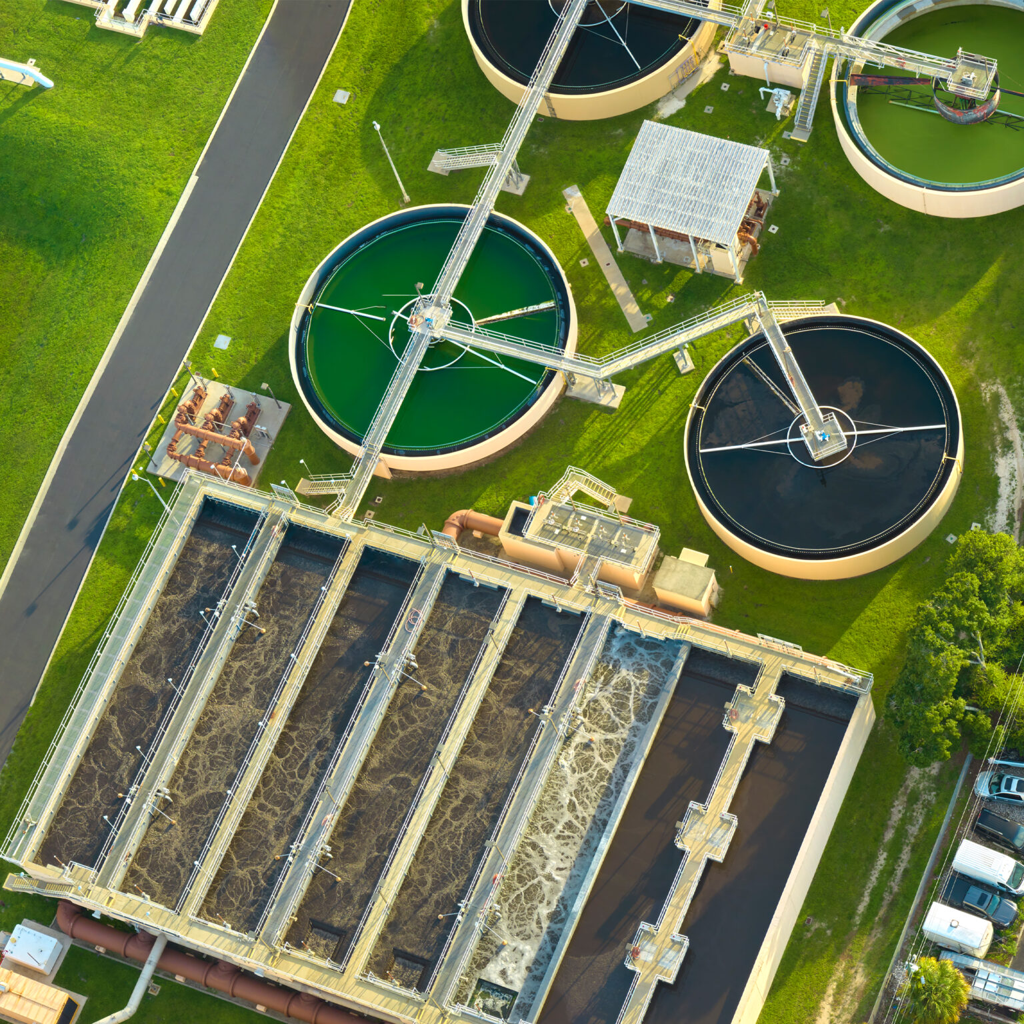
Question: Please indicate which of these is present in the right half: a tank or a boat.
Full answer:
The feature located in the right half is a tank.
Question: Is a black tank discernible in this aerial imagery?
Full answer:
Yes, I can see a black tank in this picture.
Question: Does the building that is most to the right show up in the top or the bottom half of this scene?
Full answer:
The top half of the photo is where the building that is most to the right is.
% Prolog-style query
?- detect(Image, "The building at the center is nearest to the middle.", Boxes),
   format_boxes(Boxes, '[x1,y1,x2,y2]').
[498,492,660,596]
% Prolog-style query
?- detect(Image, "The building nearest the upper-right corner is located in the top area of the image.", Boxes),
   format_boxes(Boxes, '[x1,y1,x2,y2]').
[724,11,841,90]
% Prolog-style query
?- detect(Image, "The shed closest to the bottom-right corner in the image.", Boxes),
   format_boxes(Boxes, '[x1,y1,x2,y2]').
[652,547,718,616]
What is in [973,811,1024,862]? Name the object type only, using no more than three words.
truck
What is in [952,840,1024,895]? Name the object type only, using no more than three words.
van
